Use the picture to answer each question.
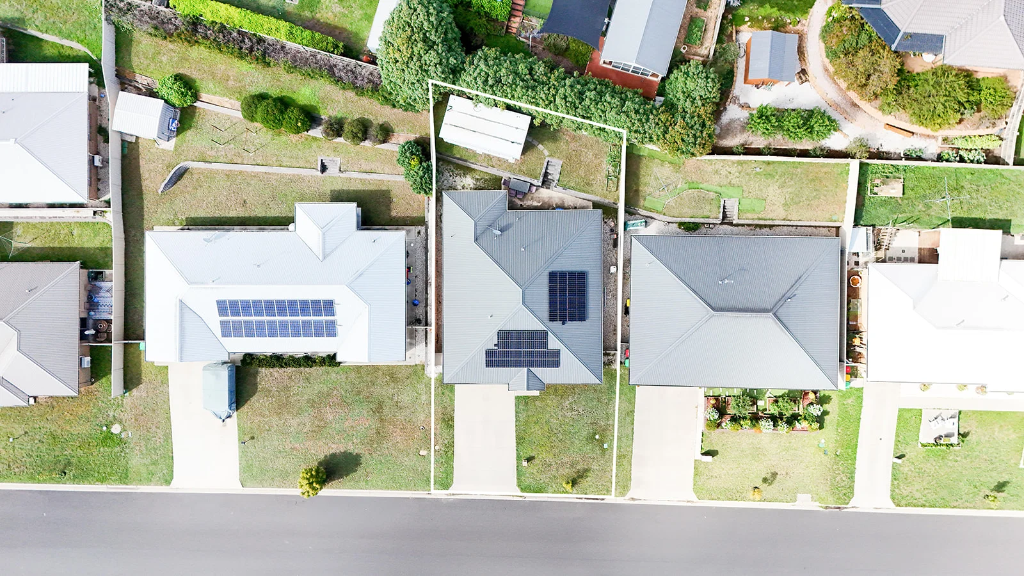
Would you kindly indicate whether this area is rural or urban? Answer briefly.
urban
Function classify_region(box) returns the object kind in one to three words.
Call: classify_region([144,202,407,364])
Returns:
house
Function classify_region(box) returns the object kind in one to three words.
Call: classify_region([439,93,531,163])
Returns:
shed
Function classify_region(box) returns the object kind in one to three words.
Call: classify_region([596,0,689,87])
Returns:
shed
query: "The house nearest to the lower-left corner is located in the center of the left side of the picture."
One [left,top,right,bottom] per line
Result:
[0,260,89,407]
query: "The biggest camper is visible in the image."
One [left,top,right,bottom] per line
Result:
[202,363,237,420]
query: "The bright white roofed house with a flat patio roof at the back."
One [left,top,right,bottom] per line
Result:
[858,228,1024,394]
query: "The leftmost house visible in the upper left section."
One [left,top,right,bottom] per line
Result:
[0,61,98,204]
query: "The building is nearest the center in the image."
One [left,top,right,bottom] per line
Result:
[442,190,603,391]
